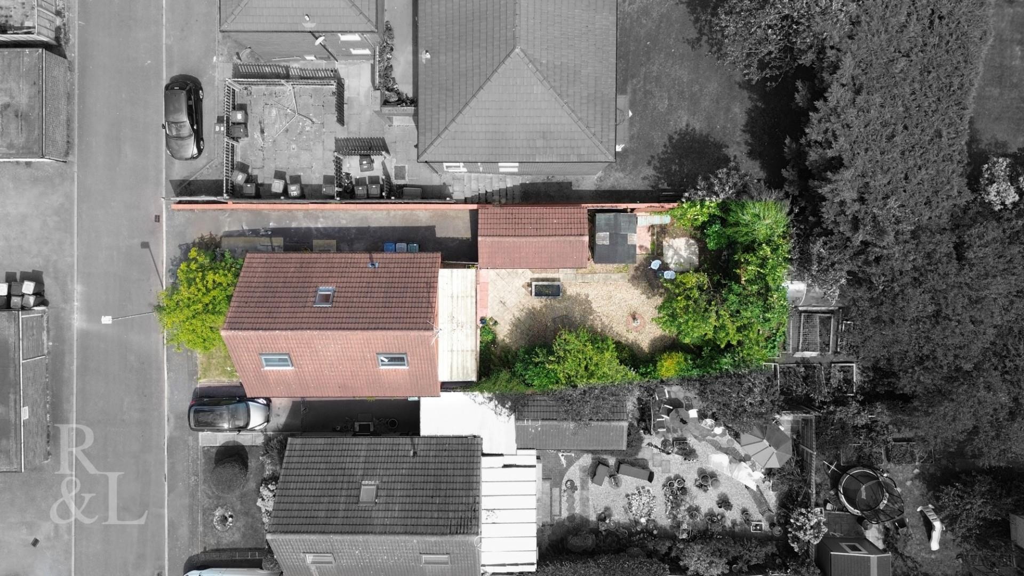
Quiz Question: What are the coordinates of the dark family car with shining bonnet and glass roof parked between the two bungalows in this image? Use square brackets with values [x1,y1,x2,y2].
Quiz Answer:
[185,394,275,437]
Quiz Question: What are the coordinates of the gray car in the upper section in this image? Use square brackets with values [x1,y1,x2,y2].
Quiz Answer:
[160,79,207,162]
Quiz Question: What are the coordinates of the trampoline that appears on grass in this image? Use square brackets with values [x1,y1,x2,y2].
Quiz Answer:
[829,462,905,528]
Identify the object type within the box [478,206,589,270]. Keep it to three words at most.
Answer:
building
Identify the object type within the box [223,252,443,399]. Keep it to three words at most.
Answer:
house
